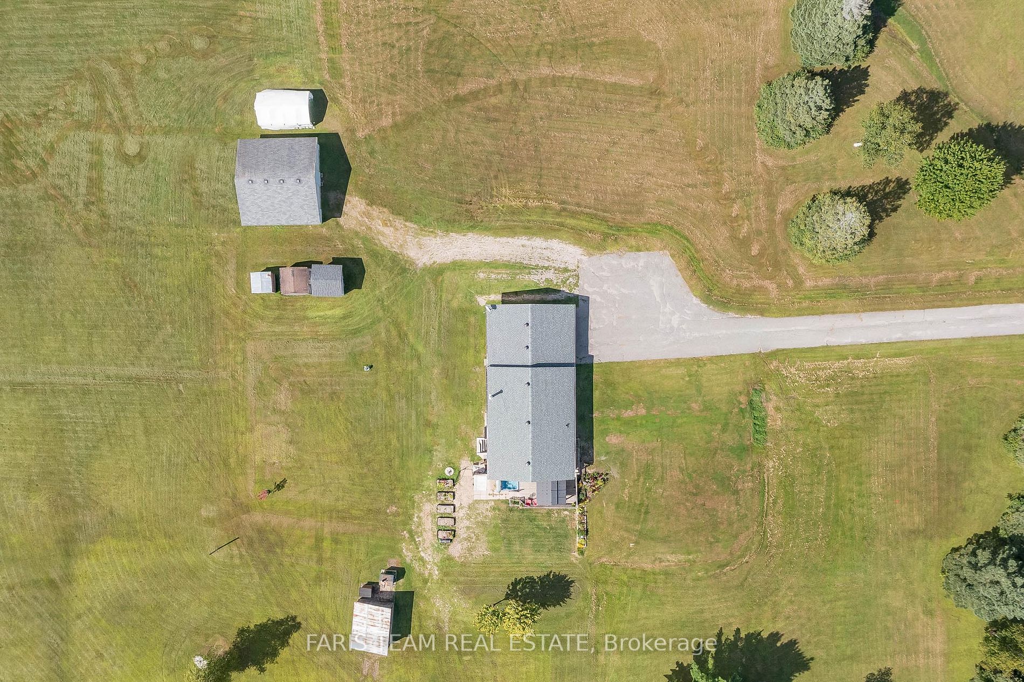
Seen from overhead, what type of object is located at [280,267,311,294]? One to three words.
shed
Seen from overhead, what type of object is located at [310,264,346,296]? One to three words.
shed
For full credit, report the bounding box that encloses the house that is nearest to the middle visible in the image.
[486,304,576,482]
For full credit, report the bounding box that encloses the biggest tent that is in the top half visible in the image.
[255,89,314,130]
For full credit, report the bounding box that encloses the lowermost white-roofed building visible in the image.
[351,599,393,656]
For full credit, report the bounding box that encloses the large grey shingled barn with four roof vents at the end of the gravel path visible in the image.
[235,137,323,226]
